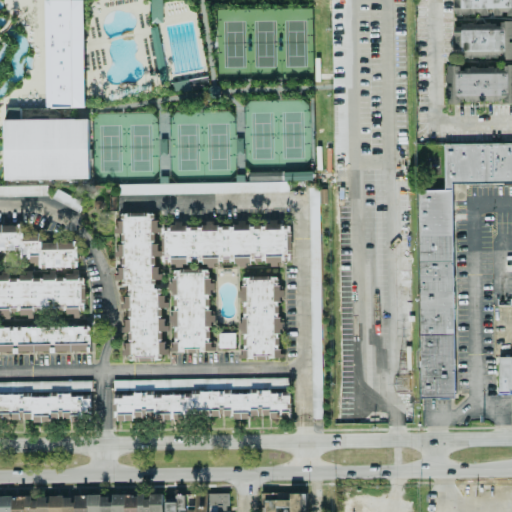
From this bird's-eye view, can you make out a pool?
Yes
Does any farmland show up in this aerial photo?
No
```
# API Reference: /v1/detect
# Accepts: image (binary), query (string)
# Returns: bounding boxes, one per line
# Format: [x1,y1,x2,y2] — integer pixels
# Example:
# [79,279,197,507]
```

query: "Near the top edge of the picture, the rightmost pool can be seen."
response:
[167,22,204,74]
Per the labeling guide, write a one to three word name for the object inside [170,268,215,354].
building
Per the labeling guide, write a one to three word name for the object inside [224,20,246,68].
tennis court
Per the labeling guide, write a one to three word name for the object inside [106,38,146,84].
swimming pool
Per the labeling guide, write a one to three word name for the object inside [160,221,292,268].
building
